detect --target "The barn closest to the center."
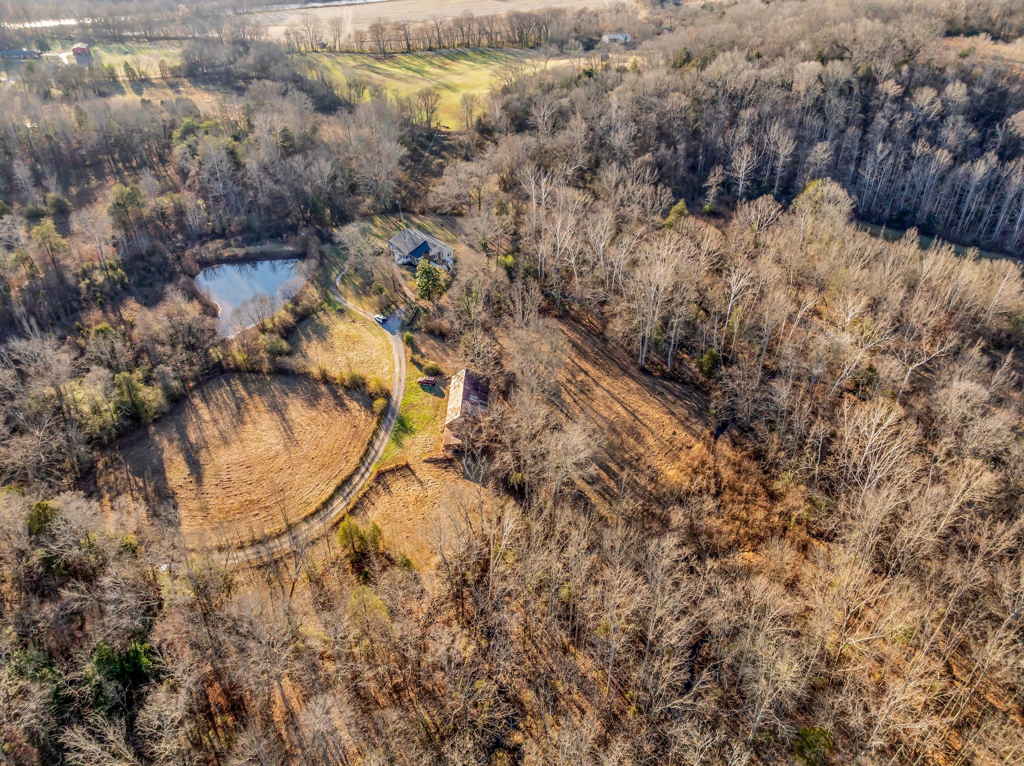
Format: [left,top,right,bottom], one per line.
[440,365,493,457]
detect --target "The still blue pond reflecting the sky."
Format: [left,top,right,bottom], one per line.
[188,256,312,343]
